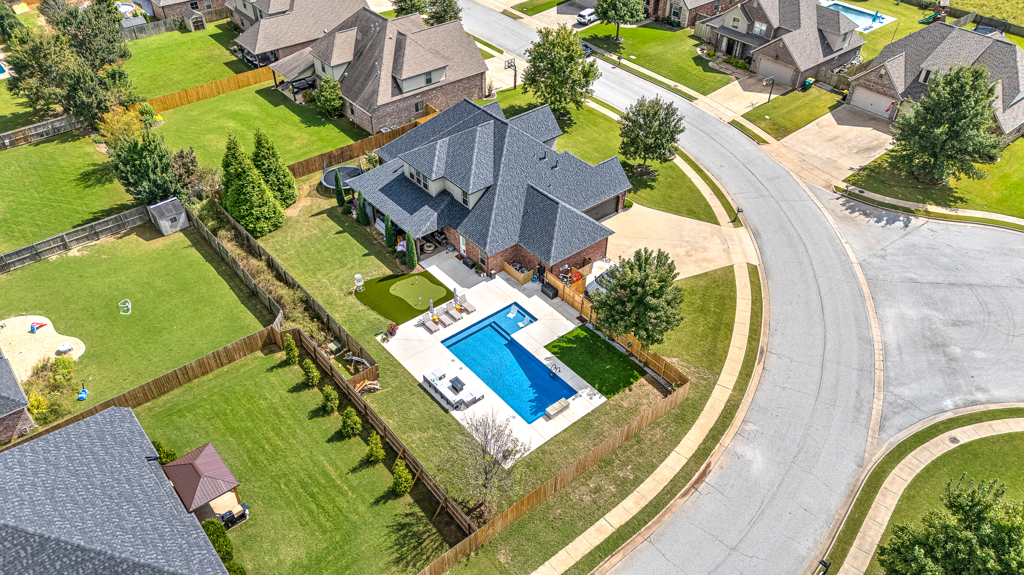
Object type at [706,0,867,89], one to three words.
house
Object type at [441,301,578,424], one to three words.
swimming pool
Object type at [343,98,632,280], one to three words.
house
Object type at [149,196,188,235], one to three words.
shed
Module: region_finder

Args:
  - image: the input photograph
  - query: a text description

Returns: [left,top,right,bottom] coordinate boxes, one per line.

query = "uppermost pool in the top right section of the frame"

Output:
[827,0,885,26]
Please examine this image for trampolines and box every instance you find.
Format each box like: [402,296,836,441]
[312,148,356,189]
[978,10,1020,37]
